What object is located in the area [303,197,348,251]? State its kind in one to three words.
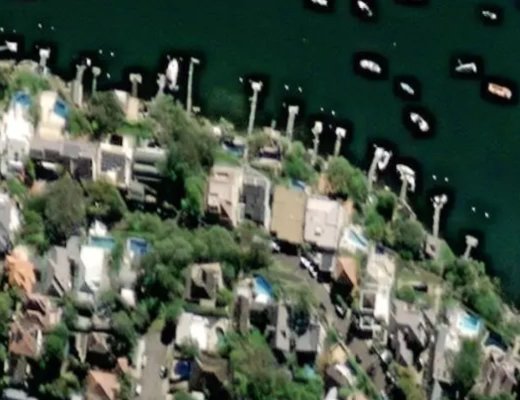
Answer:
building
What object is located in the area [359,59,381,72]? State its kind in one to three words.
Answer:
boat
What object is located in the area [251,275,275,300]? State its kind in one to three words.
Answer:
swimming pool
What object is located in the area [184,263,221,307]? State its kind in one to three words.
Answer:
house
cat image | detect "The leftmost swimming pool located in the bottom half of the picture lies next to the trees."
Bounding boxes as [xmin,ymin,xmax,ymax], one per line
[90,236,115,248]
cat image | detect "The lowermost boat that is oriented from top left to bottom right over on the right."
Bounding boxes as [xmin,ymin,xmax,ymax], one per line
[410,113,430,134]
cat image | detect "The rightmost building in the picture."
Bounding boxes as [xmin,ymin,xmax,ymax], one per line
[473,345,520,396]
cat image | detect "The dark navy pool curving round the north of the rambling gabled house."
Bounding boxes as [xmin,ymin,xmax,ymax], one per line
[485,331,508,350]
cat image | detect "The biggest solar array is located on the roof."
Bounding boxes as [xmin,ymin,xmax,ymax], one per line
[101,152,125,173]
